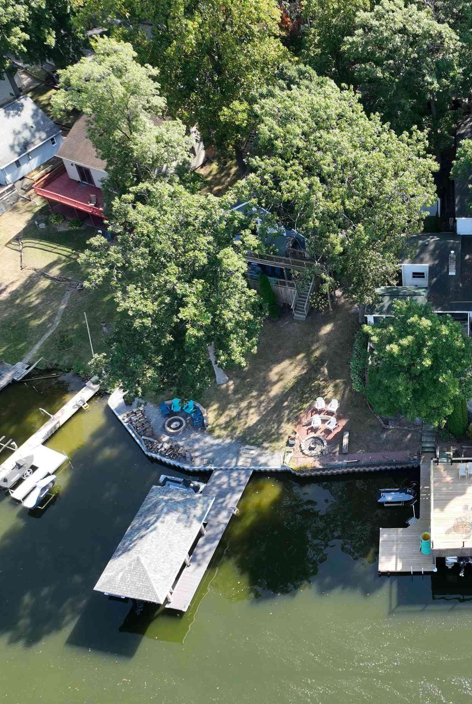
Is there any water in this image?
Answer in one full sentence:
Yes, water shows up in the scene.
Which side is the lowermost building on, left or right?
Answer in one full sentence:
The lowermost building sits on the left side.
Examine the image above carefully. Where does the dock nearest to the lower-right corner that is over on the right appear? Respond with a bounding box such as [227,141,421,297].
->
[378,457,439,578]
